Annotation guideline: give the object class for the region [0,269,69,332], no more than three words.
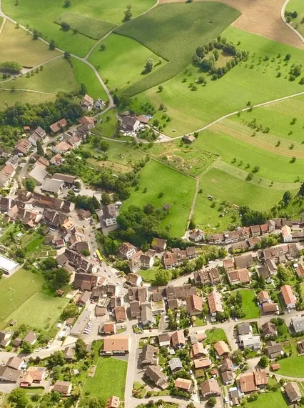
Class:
sports field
